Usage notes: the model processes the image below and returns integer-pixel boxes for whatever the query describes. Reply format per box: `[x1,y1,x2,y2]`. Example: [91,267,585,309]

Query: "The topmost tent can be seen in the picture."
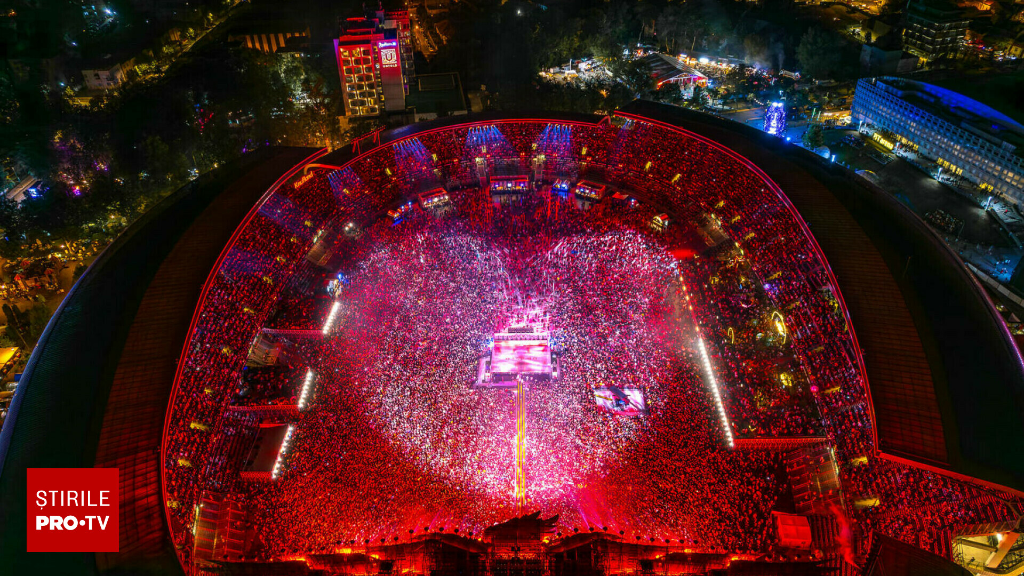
[605,50,710,91]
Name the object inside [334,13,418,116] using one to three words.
building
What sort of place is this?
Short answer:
sports ground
